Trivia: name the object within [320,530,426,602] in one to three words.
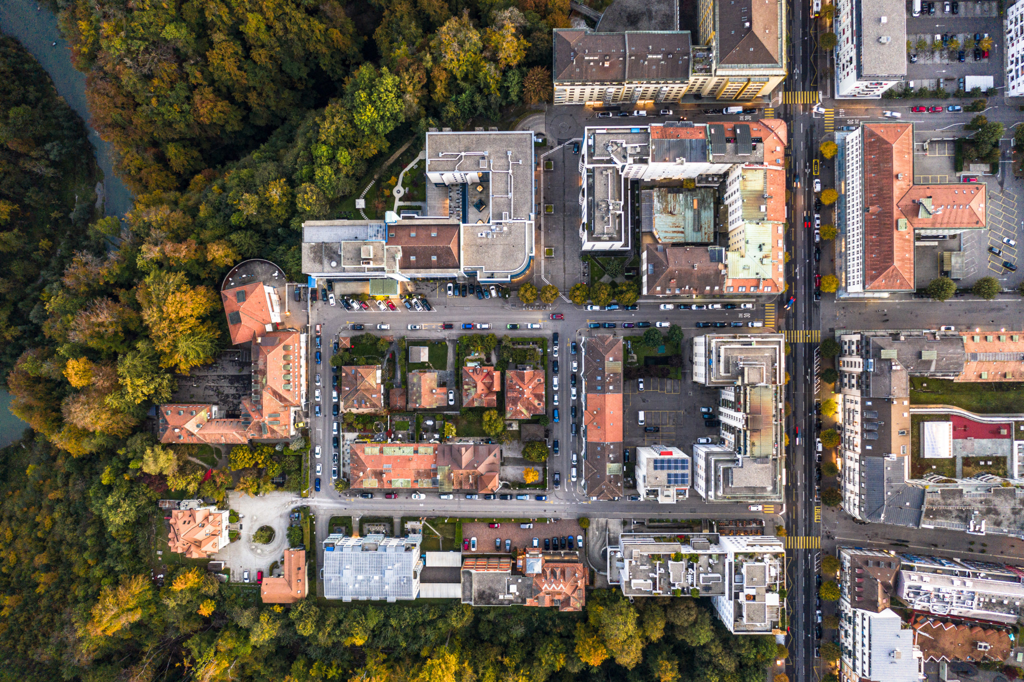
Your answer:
building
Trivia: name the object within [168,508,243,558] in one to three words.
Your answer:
house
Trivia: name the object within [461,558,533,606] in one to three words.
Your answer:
building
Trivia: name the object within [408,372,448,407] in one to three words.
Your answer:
house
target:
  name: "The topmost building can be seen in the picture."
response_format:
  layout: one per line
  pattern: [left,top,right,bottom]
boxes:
[595,0,675,32]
